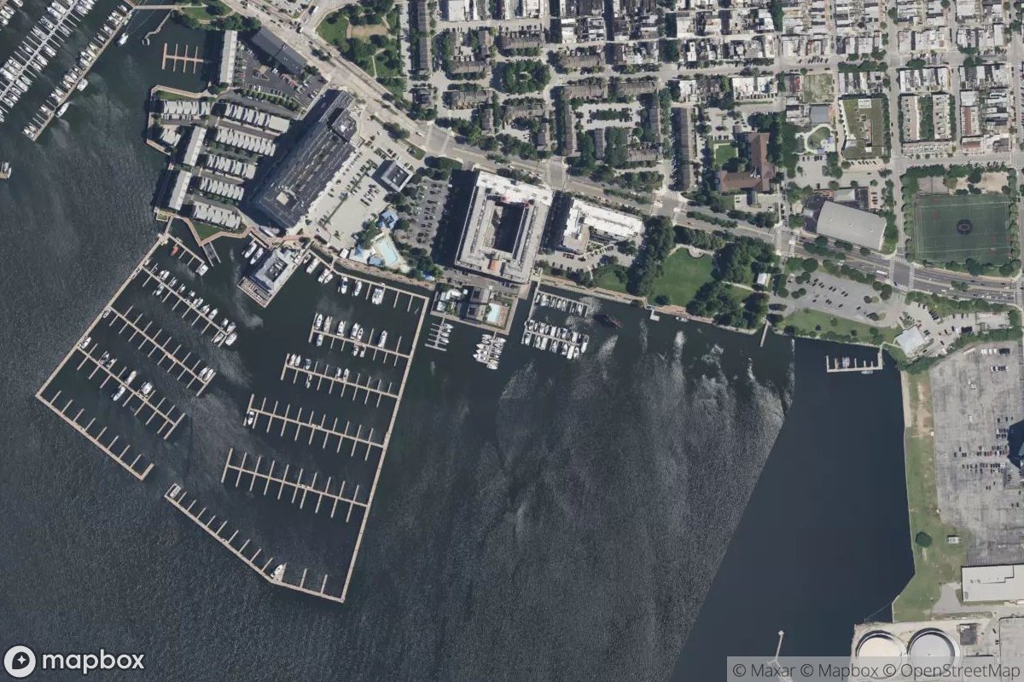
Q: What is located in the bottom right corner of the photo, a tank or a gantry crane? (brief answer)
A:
tank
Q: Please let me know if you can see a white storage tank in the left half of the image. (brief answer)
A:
No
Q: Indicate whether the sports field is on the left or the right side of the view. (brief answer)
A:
right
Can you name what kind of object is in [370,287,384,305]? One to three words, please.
boat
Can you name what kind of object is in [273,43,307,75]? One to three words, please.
shed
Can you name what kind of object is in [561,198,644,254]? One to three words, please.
building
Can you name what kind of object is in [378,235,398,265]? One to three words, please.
swimming pool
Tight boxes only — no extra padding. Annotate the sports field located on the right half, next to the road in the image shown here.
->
[914,191,1011,263]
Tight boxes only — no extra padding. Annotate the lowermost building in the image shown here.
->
[960,625,976,646]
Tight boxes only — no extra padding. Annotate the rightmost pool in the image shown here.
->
[486,302,500,324]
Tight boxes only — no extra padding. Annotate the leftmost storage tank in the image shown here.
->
[858,633,905,679]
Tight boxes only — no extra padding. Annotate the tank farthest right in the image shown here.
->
[907,632,956,680]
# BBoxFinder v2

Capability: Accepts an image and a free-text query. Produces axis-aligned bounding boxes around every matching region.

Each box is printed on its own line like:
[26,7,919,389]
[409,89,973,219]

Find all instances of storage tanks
[907,632,956,680]
[858,633,905,679]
